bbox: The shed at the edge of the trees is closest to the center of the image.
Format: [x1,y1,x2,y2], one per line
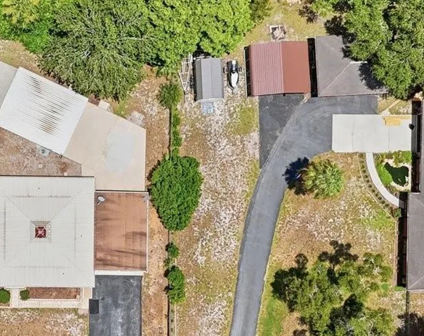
[193,57,223,102]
